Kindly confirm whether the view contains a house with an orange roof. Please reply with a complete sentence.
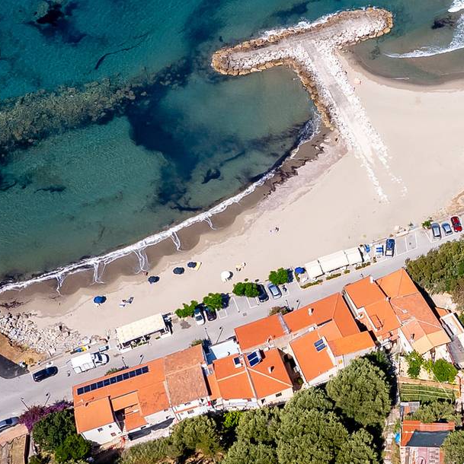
Yes, a house with an orange roof can be made out from above.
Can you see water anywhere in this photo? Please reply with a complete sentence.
Yes, water shows up in the scene.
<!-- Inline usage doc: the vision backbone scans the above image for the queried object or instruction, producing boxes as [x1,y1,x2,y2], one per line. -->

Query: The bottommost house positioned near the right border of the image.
[400,401,454,452]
